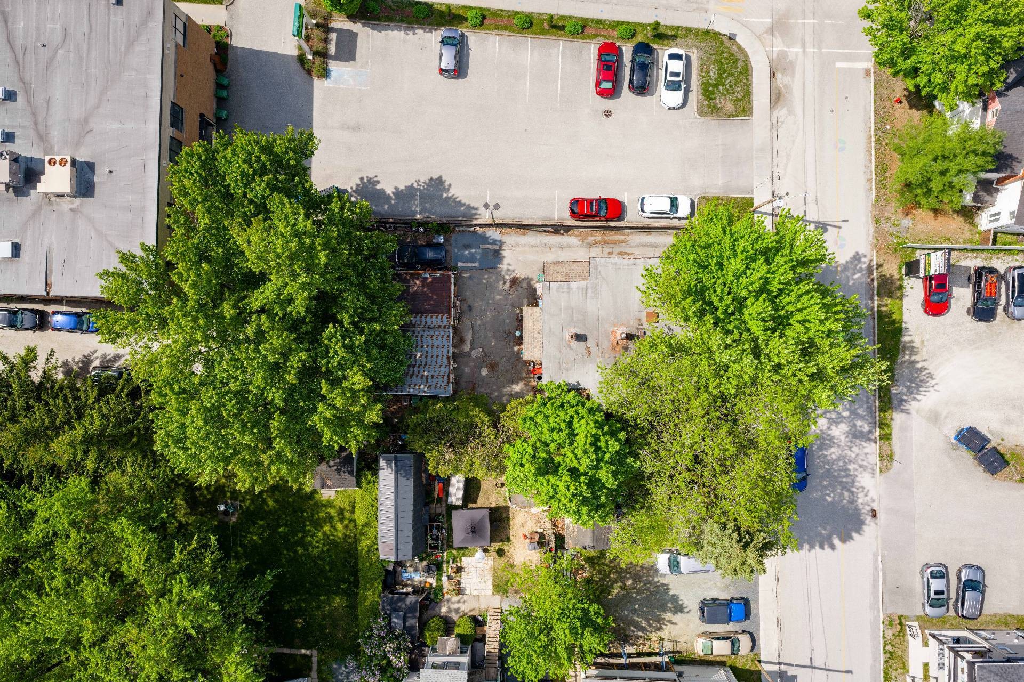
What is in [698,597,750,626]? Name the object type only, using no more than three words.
car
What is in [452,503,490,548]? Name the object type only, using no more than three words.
gazebo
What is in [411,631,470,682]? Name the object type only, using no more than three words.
house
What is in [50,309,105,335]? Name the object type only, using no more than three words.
car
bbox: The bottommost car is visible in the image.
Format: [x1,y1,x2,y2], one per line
[694,630,751,658]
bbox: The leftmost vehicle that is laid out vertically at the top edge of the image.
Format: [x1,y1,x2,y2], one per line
[438,28,464,80]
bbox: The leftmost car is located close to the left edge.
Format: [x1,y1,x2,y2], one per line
[0,306,45,333]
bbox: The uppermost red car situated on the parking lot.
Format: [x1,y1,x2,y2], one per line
[594,42,621,98]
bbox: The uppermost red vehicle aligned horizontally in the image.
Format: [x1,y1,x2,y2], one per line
[568,195,622,222]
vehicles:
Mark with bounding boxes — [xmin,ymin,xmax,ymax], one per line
[952,562,987,620]
[920,562,951,618]
[966,266,1000,319]
[920,271,952,320]
[0,306,45,333]
[658,49,686,110]
[568,195,622,222]
[784,441,813,495]
[1003,265,1024,321]
[637,192,691,219]
[627,42,655,96]
[50,309,105,335]
[438,28,464,80]
[654,549,719,578]
[594,42,621,98]
[698,597,750,626]
[694,630,751,658]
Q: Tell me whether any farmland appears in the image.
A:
No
